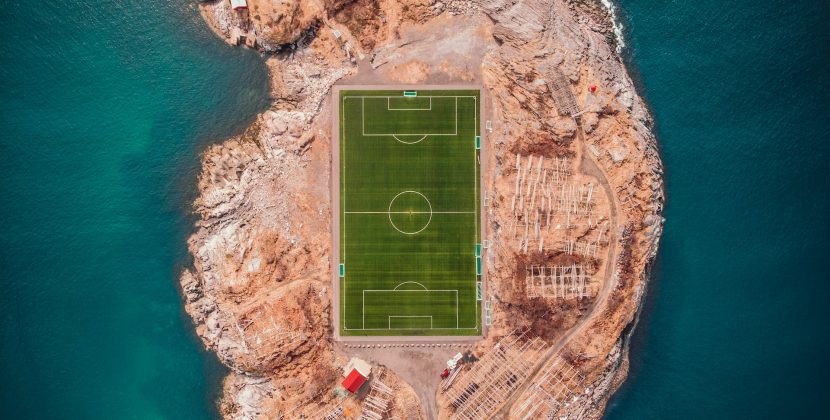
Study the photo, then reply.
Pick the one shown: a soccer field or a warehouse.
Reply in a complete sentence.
It is a soccer field that can be seen here.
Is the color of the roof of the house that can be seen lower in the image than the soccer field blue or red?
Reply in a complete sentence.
From above, the roof of the house that can be seen lower in the image than the soccer field appears red.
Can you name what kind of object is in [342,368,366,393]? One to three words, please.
house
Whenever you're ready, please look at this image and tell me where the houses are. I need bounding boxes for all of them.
[231,0,249,11]
[342,368,366,393]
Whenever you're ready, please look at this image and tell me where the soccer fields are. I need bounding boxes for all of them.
[340,90,482,336]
